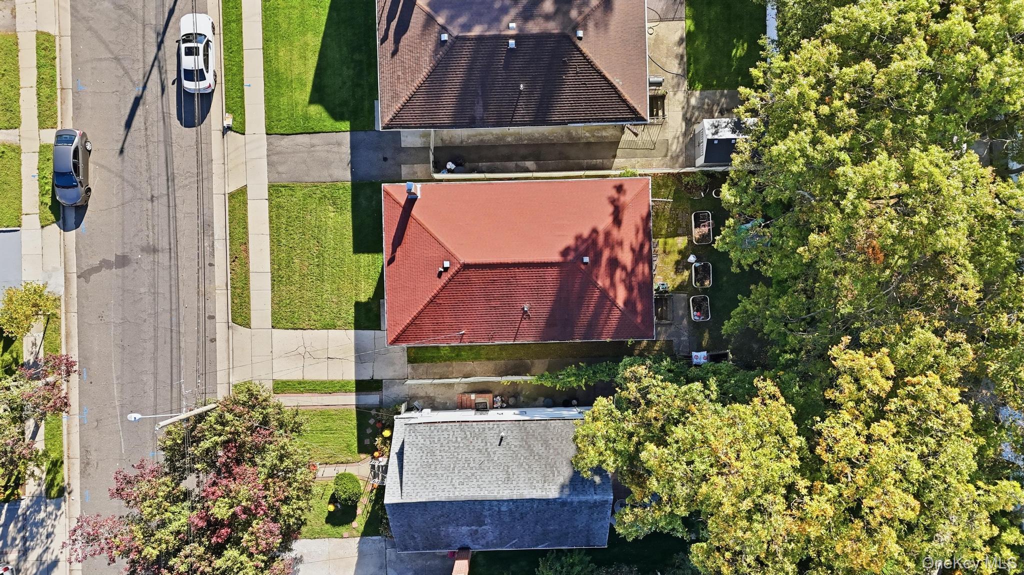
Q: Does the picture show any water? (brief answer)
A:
No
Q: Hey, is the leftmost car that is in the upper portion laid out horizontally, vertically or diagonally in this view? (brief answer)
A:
vertically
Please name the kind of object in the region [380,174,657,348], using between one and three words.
house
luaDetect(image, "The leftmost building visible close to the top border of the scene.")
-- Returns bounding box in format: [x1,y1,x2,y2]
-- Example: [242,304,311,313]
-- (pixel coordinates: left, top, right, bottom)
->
[374,0,651,132]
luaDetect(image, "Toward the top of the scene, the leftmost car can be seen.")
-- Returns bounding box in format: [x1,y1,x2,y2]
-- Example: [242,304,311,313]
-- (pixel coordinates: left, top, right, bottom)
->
[50,127,91,206]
